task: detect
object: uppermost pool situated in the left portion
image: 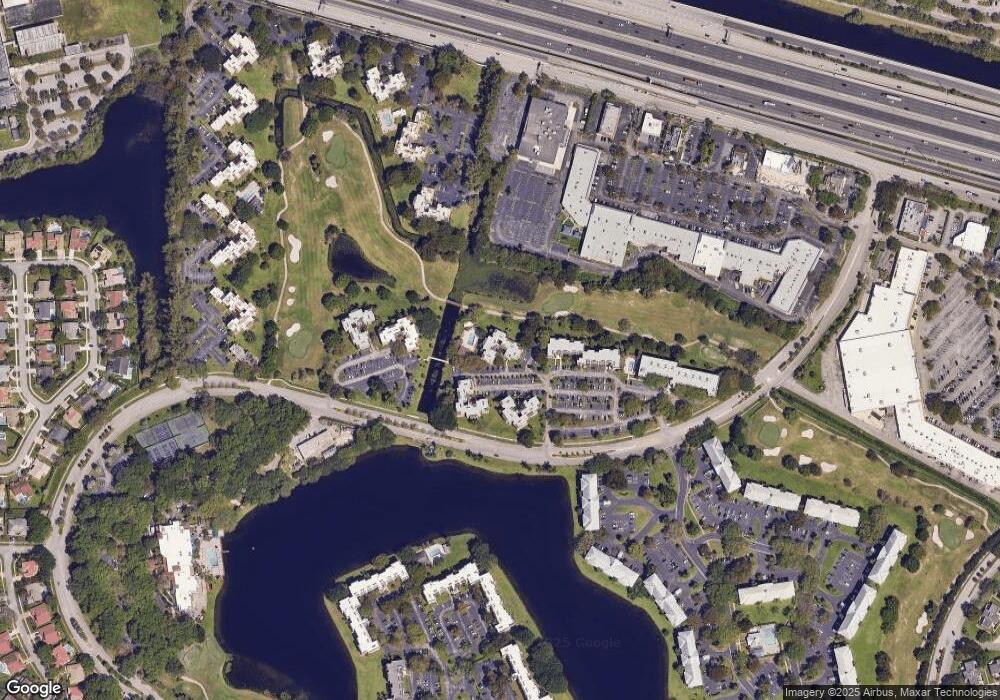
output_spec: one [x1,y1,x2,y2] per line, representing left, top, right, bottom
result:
[378,108,396,134]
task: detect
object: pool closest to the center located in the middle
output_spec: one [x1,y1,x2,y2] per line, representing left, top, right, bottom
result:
[463,326,478,350]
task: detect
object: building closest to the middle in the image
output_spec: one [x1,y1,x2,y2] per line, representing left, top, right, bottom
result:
[481,329,521,361]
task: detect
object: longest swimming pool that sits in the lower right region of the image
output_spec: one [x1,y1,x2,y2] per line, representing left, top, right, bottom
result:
[765,624,780,656]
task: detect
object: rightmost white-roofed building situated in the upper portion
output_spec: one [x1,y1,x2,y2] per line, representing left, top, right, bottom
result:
[953,222,990,254]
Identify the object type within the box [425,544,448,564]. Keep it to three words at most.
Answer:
swimming pool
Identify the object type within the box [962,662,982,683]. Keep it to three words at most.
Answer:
house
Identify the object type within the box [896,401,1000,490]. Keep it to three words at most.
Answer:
building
